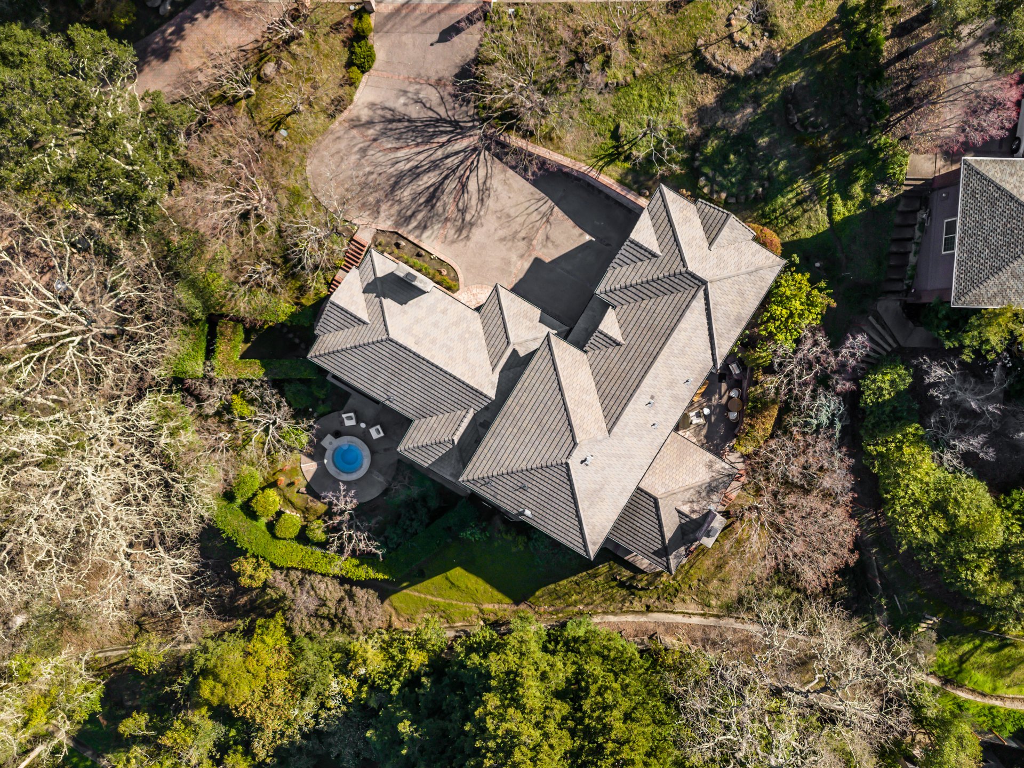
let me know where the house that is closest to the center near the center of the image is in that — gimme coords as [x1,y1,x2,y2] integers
[304,181,791,581]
